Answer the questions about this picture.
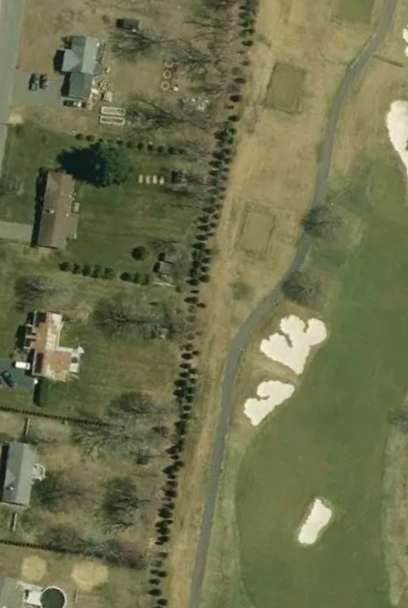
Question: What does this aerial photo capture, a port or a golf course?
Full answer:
It's a golf course.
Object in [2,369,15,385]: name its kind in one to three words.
vehicle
